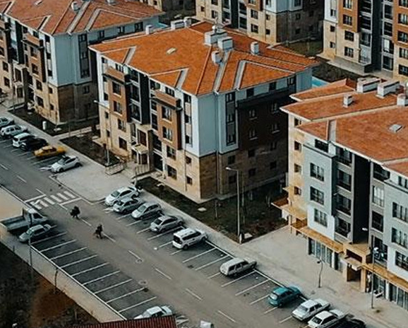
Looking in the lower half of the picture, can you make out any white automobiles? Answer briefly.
Yes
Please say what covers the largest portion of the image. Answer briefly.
buildings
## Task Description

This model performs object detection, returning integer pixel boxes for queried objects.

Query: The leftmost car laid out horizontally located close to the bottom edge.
[133,299,175,319]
